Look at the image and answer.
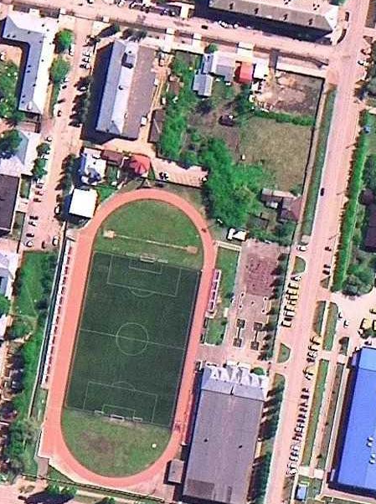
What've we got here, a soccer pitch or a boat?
soccer pitch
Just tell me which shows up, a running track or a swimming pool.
running track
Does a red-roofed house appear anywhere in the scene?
Yes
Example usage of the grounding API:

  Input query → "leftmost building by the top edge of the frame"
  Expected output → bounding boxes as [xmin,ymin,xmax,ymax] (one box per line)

[1,14,62,118]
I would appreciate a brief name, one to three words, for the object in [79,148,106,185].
house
